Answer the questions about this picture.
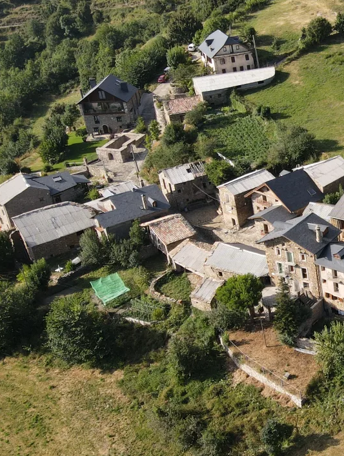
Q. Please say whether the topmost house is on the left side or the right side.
right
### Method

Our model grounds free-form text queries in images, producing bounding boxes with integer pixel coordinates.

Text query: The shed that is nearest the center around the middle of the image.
[143,213,197,266]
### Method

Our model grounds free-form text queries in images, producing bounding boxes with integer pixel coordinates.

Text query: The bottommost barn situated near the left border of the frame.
[9,203,95,259]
